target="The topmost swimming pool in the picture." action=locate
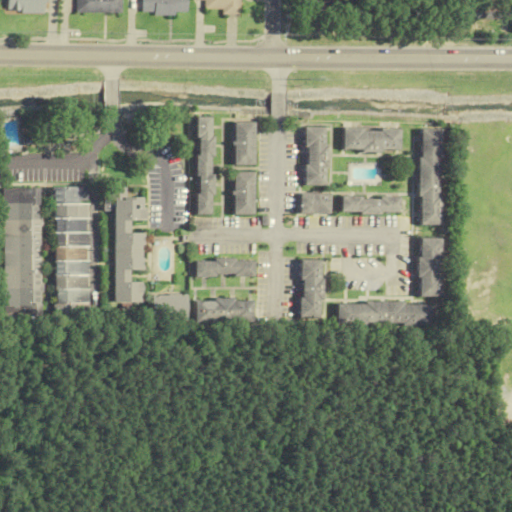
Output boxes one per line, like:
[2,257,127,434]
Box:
[5,120,18,143]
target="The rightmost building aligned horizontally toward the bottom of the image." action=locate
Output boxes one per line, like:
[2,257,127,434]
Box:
[339,301,428,324]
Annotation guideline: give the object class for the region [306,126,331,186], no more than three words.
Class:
building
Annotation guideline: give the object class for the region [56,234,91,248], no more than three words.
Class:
house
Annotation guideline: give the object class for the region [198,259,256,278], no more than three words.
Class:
building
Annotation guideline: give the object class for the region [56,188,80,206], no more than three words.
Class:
house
